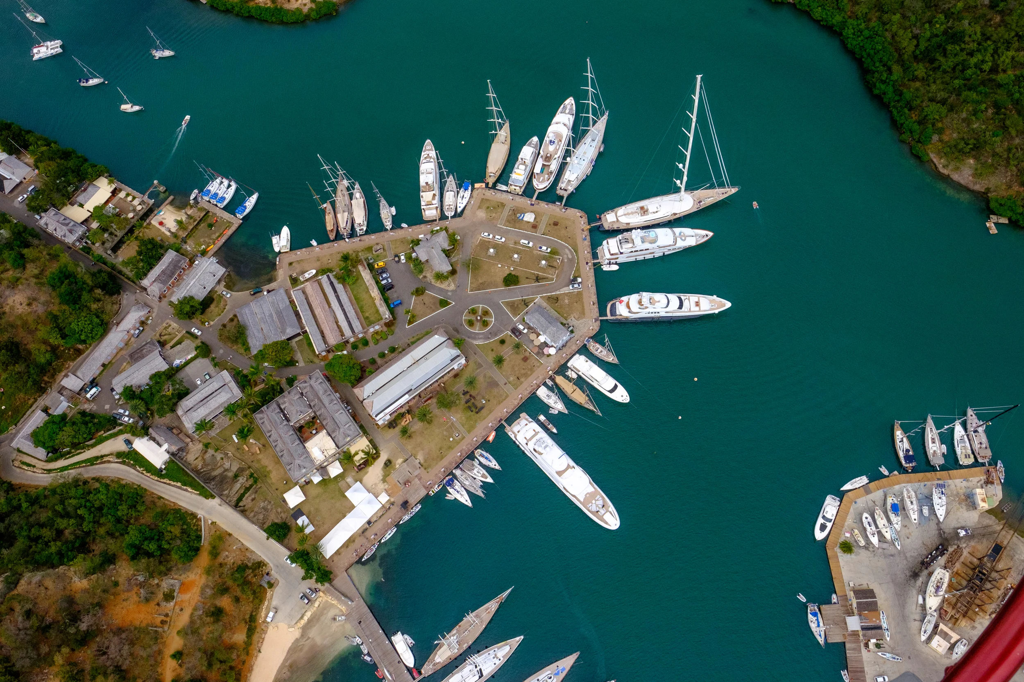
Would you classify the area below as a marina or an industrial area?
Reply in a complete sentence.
The picture captures a marina.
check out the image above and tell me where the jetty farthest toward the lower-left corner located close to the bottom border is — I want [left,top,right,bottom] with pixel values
[332,572,409,682]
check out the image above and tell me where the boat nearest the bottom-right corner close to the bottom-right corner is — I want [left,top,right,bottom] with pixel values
[948,638,969,660]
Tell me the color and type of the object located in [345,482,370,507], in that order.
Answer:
white tent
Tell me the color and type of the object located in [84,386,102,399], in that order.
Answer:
white vehicle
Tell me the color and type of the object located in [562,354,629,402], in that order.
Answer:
white boat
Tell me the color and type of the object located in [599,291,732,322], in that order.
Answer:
white boat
